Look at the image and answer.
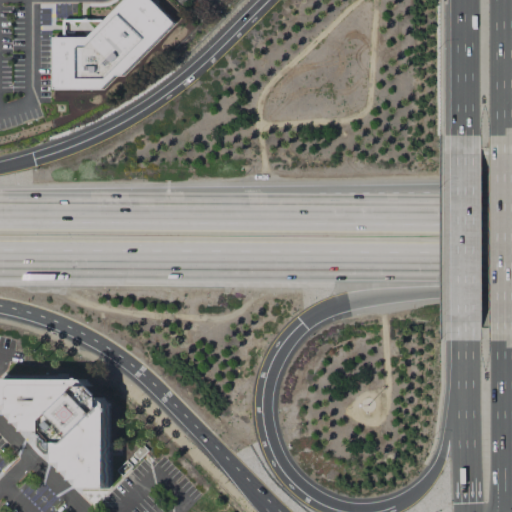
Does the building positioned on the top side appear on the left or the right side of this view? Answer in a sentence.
It is on the left.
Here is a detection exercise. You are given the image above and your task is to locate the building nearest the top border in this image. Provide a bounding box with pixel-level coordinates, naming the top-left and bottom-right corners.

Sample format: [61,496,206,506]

[52,0,177,91]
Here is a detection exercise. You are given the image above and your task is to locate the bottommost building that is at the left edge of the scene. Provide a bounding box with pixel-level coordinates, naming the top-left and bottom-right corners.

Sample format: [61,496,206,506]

[0,380,110,498]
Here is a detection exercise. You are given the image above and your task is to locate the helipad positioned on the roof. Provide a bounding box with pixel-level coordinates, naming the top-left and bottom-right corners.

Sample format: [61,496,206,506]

[43,390,86,436]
